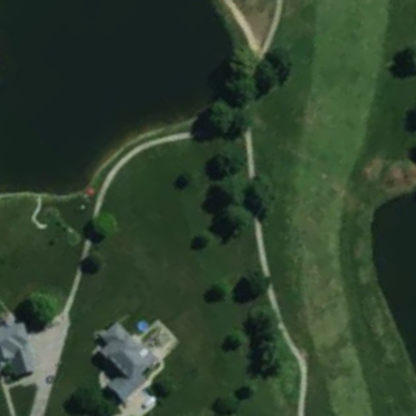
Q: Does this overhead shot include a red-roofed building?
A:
No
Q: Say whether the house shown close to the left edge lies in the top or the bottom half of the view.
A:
bottom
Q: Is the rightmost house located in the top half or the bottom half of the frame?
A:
bottom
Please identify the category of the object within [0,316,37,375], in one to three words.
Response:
house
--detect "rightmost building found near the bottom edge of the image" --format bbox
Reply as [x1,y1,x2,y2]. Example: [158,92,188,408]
[100,319,154,402]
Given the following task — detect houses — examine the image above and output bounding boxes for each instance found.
[100,319,154,402]
[0,316,37,375]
